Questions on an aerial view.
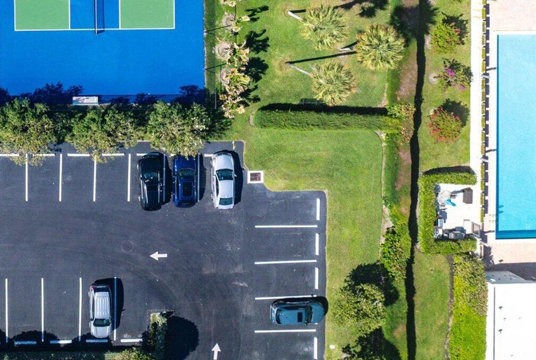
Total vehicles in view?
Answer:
5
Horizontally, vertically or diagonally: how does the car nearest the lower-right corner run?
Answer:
horizontally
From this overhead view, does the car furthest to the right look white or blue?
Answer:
blue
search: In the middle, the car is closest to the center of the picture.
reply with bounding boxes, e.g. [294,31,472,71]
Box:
[209,151,238,210]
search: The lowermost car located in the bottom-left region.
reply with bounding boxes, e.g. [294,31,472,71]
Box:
[88,282,115,338]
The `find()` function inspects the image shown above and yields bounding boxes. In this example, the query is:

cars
[88,282,115,338]
[170,152,200,209]
[267,298,326,329]
[209,151,238,210]
[136,154,165,211]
